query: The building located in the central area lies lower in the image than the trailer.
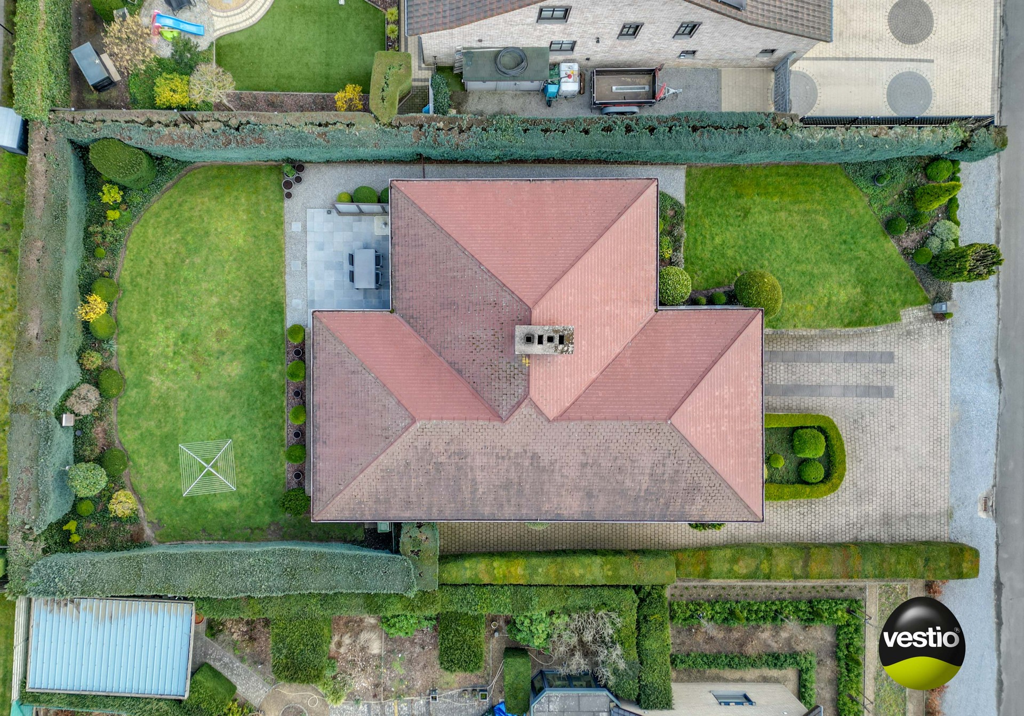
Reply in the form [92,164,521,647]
[312,179,764,522]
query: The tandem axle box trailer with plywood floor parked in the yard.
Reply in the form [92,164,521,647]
[590,65,686,115]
